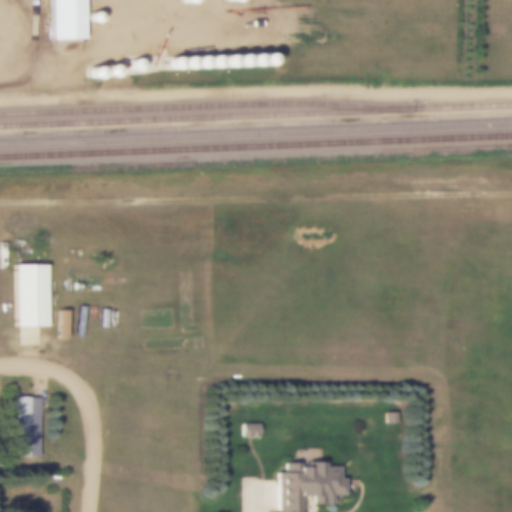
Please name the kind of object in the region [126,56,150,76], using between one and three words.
silo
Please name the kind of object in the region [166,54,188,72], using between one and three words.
silo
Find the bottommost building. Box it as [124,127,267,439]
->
[278,462,350,512]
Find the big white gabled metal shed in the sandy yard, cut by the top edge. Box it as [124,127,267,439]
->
[51,0,90,40]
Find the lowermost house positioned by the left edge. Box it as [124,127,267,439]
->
[20,396,44,460]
